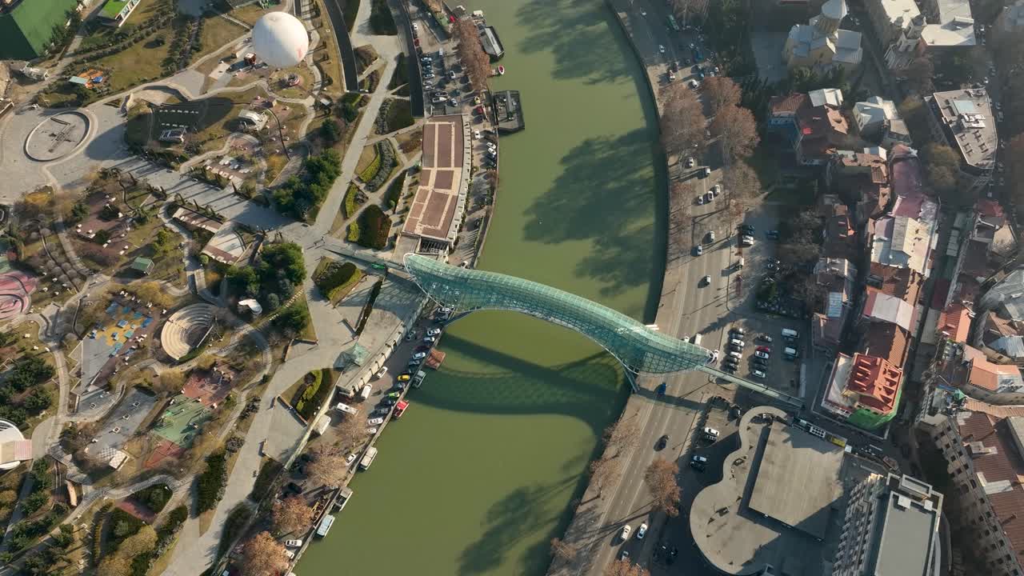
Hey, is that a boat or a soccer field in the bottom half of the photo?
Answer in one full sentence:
There is a boat in the bottom half of the photo.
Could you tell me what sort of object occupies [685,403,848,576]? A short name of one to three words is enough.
building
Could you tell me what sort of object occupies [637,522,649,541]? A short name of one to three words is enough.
vehicle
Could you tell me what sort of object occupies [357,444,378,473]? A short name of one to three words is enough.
boat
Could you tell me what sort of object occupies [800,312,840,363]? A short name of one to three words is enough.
house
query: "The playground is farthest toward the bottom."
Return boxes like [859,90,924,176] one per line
[87,302,157,354]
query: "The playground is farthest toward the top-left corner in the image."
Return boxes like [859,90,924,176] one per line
[0,253,40,319]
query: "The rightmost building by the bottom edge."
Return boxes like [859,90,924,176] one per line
[934,424,1024,576]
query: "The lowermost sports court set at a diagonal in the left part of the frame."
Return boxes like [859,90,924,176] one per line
[144,368,232,469]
